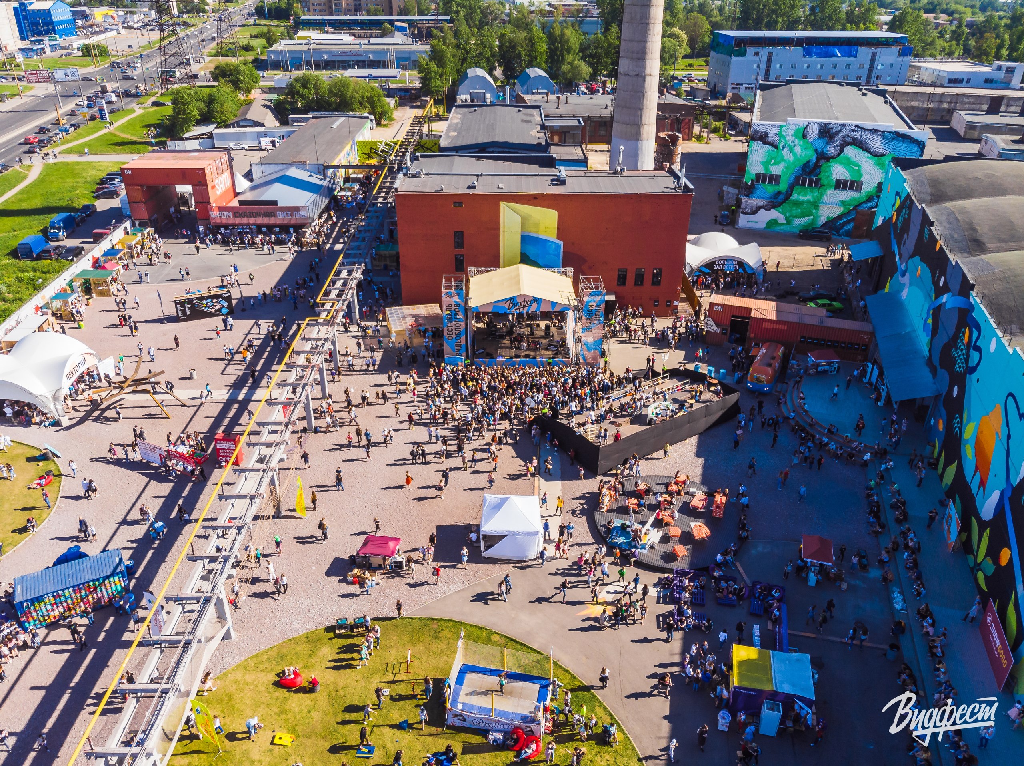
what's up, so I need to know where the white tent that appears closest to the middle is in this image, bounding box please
[482,494,542,563]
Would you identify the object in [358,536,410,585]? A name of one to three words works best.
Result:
tent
